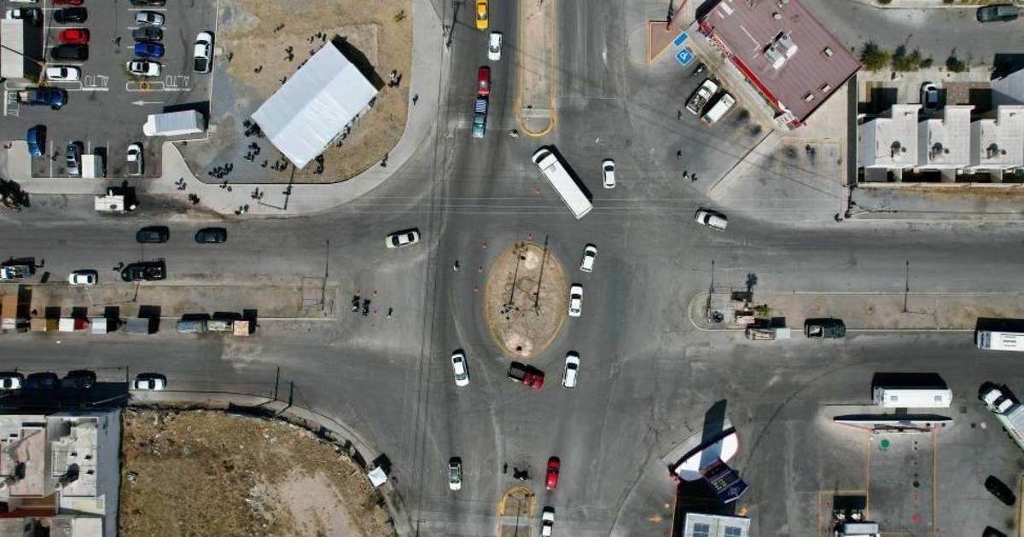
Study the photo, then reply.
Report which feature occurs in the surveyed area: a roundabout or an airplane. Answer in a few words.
roundabout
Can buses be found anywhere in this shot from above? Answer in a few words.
Yes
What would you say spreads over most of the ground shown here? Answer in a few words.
paved ground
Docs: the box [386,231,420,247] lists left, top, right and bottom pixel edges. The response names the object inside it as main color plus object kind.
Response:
white car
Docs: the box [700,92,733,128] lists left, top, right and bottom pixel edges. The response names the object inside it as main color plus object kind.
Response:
white van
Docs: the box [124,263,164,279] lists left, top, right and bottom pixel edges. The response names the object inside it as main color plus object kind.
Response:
black vehicle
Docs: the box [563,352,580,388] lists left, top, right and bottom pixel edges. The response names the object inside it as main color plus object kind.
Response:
white car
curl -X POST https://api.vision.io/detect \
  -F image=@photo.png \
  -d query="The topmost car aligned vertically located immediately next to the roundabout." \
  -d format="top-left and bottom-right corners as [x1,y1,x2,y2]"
[580,244,597,273]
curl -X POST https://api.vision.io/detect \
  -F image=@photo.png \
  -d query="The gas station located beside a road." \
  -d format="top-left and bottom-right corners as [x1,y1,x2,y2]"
[755,404,1024,537]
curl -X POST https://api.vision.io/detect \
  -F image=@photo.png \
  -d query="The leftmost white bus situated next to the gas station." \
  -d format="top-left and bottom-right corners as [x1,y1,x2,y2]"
[874,385,952,409]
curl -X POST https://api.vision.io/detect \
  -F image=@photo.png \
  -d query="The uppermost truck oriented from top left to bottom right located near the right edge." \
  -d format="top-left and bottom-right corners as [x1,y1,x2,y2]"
[976,394,1024,453]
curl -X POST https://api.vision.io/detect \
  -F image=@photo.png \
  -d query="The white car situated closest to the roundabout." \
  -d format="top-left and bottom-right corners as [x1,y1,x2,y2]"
[568,284,584,317]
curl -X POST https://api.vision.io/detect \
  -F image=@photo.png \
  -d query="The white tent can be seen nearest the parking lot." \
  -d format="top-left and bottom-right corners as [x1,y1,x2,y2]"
[252,42,381,171]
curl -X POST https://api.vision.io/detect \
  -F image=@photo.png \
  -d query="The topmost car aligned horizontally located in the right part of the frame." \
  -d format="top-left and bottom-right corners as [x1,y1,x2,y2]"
[979,5,1015,21]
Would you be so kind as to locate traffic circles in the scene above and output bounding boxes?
[484,241,570,358]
